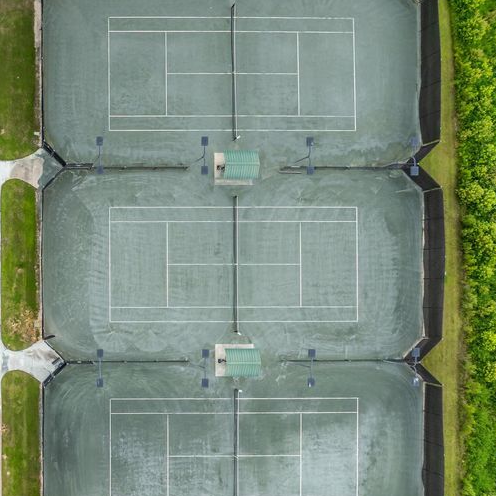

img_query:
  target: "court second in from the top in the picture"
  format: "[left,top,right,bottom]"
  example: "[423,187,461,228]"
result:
[45,167,426,362]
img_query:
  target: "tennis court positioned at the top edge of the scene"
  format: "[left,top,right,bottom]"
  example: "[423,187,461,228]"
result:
[44,0,421,167]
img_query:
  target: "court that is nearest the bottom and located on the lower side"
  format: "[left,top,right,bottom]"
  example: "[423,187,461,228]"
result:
[45,361,425,496]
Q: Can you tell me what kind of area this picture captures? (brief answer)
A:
sports ground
